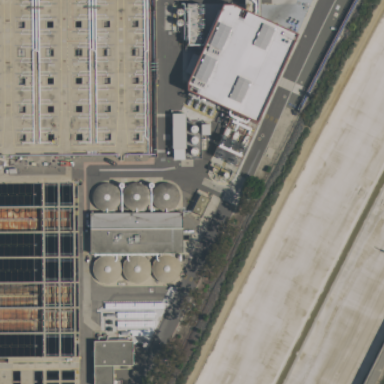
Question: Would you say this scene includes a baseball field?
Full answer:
No, this view has no baseball field in it.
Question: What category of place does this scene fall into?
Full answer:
The picture captures an industrial area.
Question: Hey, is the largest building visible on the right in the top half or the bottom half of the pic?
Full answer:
The top half of the photo is where the largest building visible on the right is.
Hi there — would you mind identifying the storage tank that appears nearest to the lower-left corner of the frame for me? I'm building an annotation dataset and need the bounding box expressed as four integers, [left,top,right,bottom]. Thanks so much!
[92,255,122,284]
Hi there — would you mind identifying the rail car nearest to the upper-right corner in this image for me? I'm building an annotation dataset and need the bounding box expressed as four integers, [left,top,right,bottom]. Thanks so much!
[346,0,361,20]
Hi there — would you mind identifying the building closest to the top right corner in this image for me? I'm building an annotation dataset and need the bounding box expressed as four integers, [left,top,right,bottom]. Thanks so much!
[188,4,298,121]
